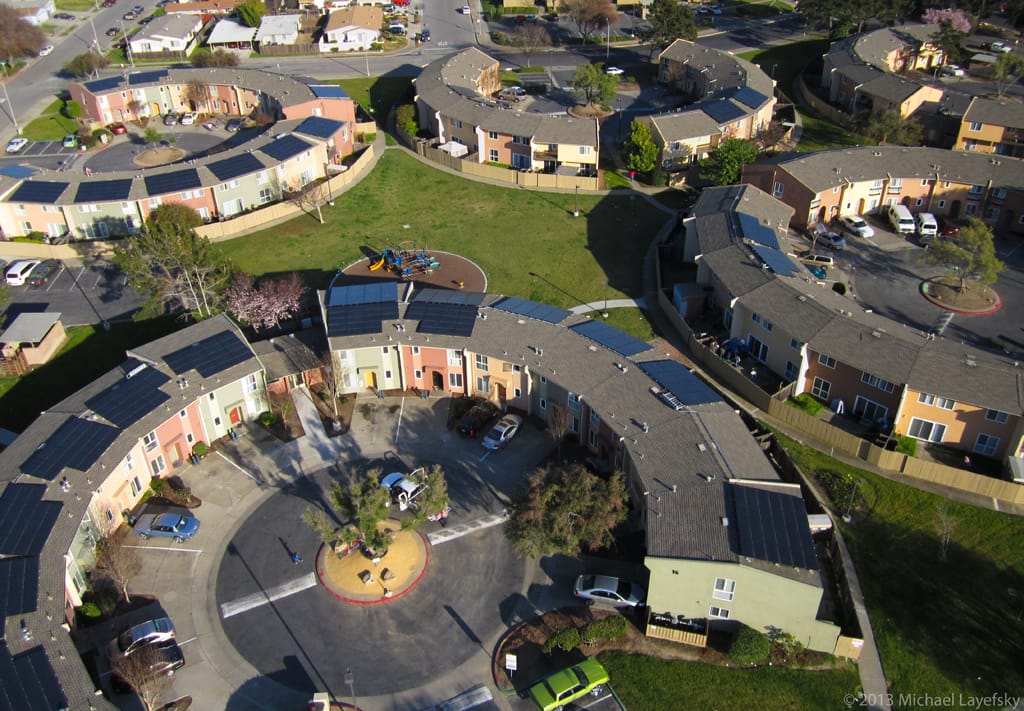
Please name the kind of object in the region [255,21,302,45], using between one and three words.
house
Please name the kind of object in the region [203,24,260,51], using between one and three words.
house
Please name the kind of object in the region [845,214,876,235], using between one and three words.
car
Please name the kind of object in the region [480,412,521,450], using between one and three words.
car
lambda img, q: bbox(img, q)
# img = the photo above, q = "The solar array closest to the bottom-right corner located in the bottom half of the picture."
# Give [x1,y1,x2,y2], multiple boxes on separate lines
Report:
[732,478,819,571]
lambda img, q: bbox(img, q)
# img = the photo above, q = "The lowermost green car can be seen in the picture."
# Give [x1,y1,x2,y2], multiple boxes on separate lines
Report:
[528,660,615,711]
